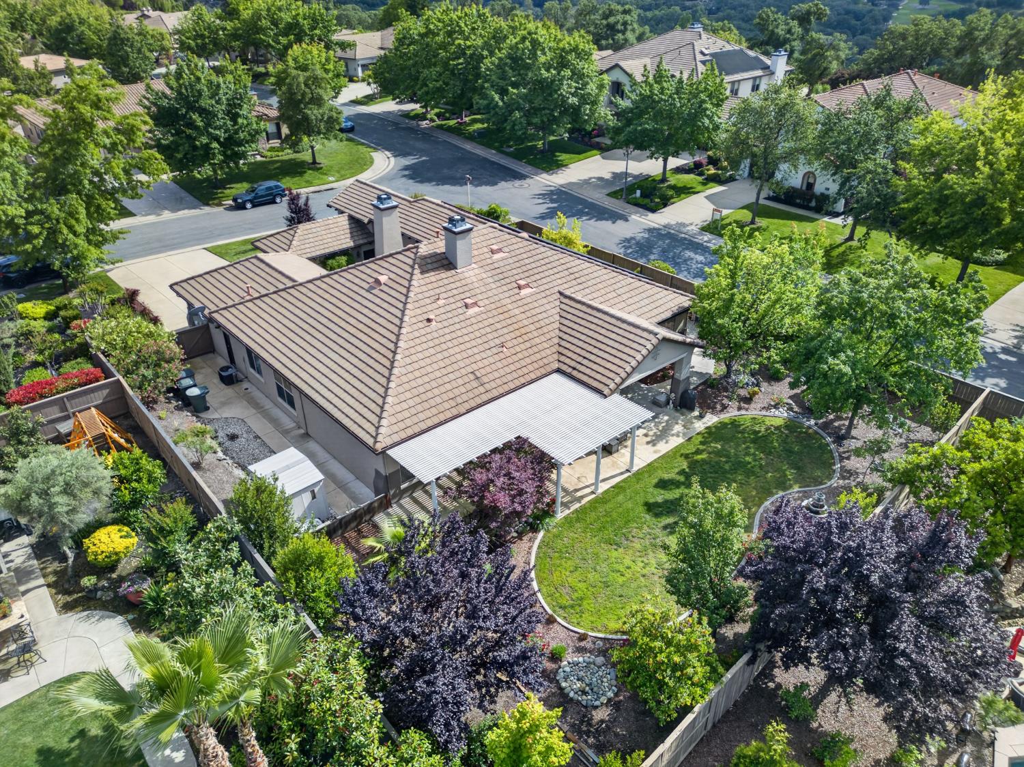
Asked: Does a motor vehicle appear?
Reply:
Yes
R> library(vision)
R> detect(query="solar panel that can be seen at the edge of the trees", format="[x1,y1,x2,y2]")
[712,48,776,74]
